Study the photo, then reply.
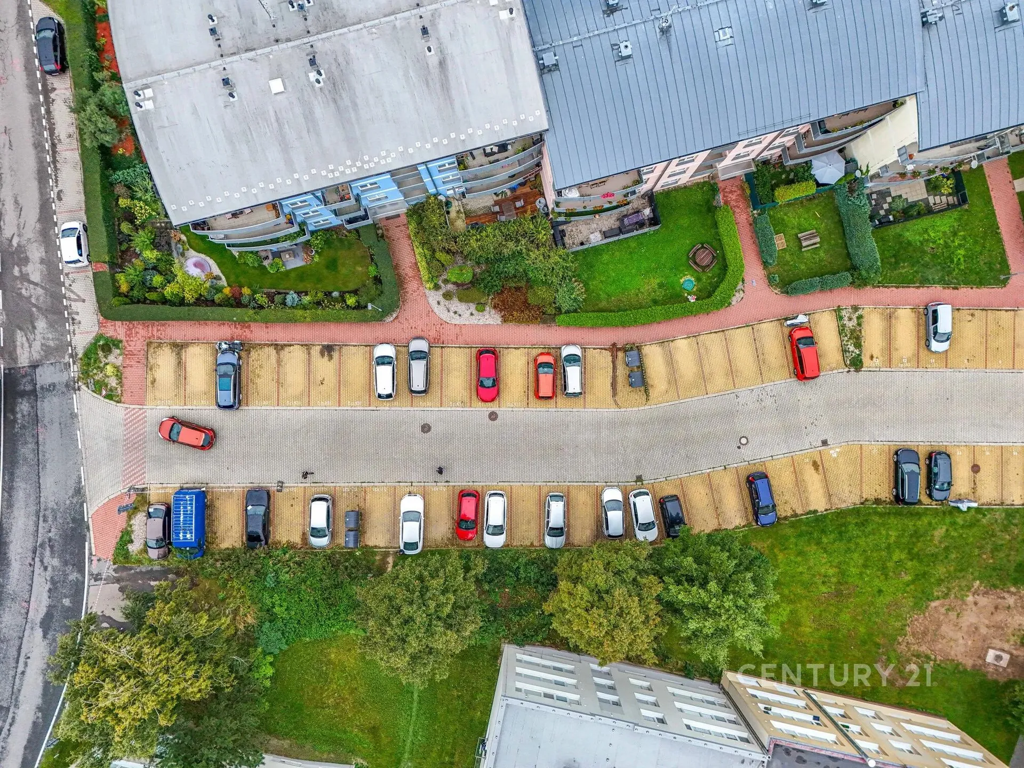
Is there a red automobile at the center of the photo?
Yes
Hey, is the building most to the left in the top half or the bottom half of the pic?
top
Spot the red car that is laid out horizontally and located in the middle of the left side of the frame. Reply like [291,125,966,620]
[160,416,218,450]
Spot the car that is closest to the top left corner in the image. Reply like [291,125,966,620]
[34,20,68,78]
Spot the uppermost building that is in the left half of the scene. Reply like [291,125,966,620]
[114,0,548,250]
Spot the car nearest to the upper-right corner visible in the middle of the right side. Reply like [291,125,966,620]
[921,304,953,353]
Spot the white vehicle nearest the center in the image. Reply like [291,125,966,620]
[558,345,586,398]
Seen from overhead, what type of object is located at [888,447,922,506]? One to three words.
car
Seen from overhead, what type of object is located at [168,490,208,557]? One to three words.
van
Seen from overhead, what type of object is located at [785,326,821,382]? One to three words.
car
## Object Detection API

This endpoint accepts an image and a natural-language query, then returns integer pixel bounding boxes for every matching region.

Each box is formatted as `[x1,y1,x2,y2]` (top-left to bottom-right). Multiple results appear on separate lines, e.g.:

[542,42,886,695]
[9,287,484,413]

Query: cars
[242,489,273,549]
[34,20,68,78]
[744,471,777,526]
[474,348,501,402]
[785,326,821,382]
[921,451,955,501]
[306,494,335,547]
[397,492,426,554]
[921,304,953,353]
[542,492,570,548]
[404,338,432,395]
[371,344,399,400]
[532,352,558,400]
[628,488,659,541]
[599,486,627,540]
[888,447,922,506]
[454,488,481,540]
[481,490,509,547]
[213,349,245,406]
[160,416,218,450]
[657,491,689,541]
[59,221,92,269]
[558,345,586,398]
[143,503,174,559]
